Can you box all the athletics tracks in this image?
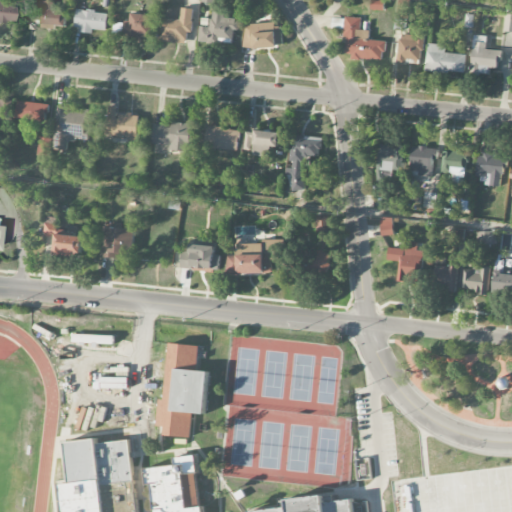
[0,320,59,512]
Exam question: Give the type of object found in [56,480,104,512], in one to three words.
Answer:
building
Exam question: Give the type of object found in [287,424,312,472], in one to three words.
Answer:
tennis court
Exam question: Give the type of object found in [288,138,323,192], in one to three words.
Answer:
house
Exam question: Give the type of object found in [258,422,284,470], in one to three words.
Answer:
tennis court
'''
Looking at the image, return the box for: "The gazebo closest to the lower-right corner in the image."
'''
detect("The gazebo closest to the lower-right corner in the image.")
[494,377,509,390]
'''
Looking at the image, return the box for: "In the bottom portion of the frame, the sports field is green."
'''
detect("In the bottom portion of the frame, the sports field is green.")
[0,334,46,512]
